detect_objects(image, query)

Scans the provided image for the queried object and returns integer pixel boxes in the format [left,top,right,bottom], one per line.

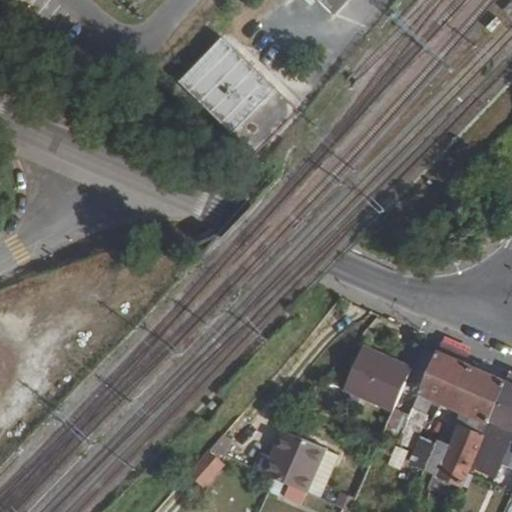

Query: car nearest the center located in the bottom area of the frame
[336,316,352,331]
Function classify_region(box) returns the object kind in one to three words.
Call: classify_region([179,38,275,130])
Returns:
building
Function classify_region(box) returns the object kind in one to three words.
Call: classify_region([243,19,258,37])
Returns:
car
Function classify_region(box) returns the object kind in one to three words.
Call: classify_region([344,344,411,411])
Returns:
house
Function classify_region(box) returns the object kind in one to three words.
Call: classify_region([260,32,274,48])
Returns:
car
